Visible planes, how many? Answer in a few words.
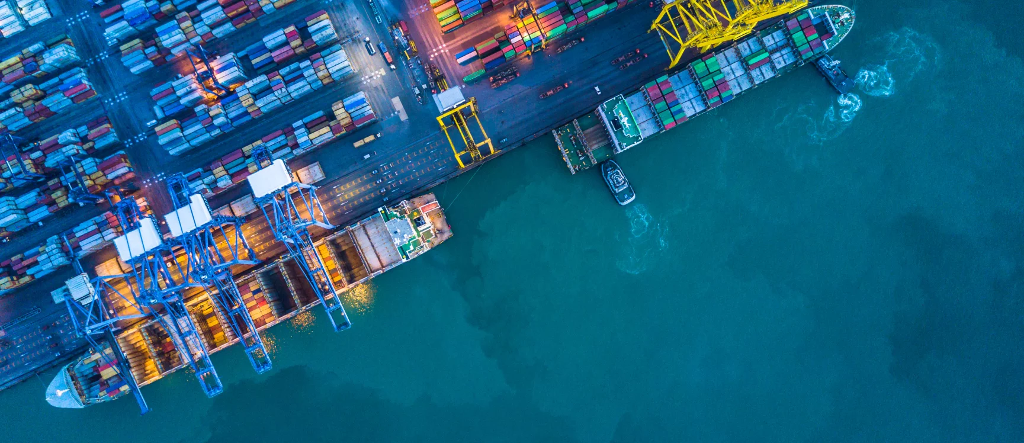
zero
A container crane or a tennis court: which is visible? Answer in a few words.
container crane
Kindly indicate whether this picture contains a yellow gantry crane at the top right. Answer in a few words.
Yes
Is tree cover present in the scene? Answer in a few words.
No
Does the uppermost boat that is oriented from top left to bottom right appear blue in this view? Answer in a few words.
Yes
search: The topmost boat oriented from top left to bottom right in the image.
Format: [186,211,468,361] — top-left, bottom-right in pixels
[811,55,852,100]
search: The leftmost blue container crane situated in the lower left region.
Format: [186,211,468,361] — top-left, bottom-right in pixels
[56,239,164,416]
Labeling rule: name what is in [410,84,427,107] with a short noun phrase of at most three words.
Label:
work vehicle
